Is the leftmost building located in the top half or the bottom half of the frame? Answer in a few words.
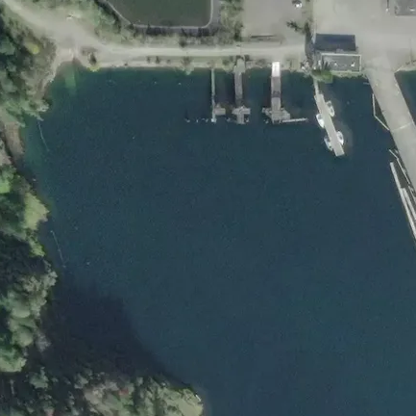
top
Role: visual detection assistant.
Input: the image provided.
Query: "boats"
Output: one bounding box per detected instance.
[316,114,326,129]
[336,132,345,145]
[325,136,335,151]
[327,101,336,117]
